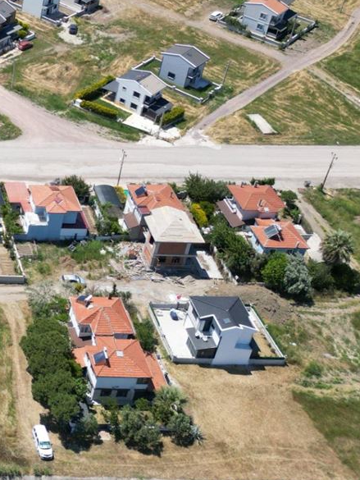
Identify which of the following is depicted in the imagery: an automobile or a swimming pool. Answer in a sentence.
It is an automobile that can be seen here.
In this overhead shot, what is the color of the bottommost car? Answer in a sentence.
From above, the bottommost car appears white.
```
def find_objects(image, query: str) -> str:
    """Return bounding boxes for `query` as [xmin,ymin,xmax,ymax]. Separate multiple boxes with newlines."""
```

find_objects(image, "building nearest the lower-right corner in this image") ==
[182,288,265,365]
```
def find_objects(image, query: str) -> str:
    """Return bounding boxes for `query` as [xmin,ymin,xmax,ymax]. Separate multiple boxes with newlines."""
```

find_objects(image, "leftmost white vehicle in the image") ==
[29,422,58,463]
